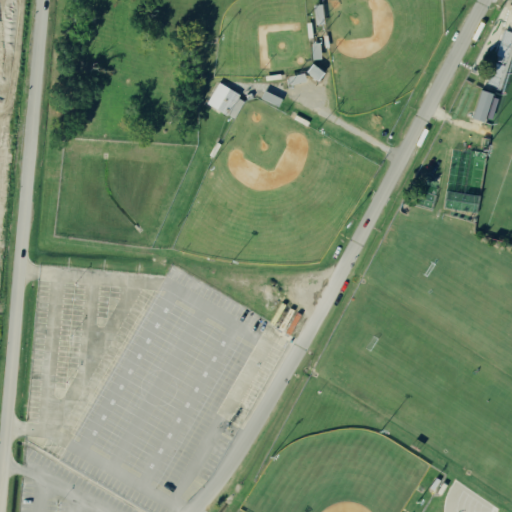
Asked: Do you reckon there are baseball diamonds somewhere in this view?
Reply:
Yes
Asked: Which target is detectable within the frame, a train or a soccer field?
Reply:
soccer field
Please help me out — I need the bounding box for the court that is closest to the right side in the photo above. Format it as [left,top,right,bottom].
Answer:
[444,149,488,214]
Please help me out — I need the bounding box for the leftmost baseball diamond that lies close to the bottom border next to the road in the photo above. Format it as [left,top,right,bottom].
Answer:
[242,430,430,512]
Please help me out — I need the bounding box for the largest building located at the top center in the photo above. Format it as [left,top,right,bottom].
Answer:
[208,82,240,115]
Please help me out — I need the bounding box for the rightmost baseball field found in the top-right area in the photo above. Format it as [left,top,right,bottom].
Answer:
[328,0,442,114]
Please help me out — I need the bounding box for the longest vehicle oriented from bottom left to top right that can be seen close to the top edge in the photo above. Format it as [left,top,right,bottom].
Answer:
[472,22,486,42]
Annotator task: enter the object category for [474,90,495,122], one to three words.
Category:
building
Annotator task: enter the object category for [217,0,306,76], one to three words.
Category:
baseball field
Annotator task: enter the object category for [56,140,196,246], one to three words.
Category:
soccer field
